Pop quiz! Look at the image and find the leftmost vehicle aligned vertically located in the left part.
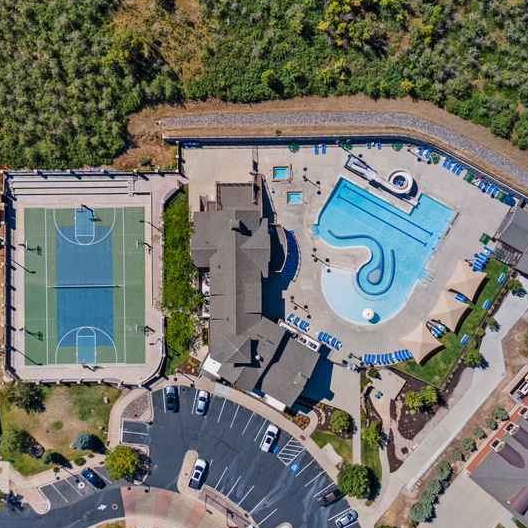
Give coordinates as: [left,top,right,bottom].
[165,385,177,412]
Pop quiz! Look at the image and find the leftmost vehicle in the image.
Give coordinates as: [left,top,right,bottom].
[83,465,106,489]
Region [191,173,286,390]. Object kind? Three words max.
building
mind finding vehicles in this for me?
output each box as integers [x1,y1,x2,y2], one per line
[165,385,177,412]
[260,422,278,453]
[313,486,344,510]
[188,457,208,491]
[83,465,106,489]
[196,389,209,416]
[333,509,359,527]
